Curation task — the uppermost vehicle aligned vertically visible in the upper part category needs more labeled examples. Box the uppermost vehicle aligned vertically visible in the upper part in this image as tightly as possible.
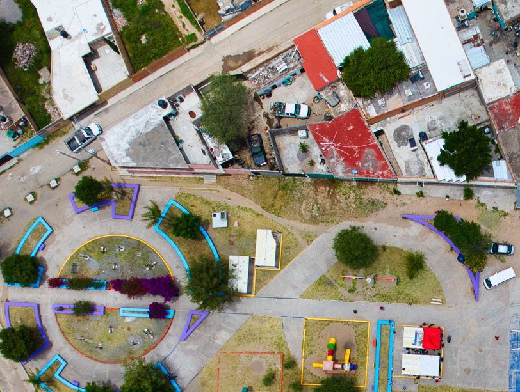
[248,132,266,167]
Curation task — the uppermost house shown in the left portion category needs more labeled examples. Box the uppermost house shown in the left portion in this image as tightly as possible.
[32,0,123,54]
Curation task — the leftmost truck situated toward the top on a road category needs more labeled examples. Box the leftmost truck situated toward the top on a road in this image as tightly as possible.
[62,124,103,151]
